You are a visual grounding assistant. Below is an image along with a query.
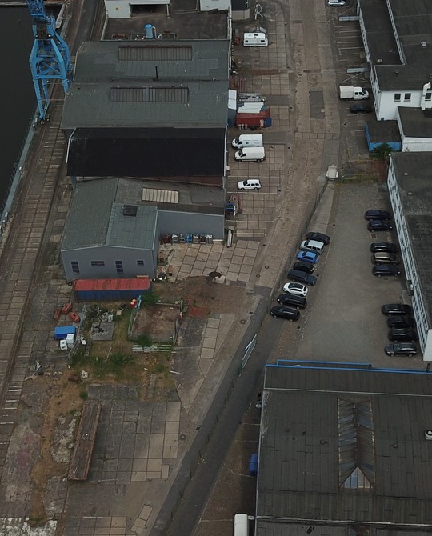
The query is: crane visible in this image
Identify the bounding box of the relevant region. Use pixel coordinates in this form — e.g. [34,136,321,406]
[27,0,74,120]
